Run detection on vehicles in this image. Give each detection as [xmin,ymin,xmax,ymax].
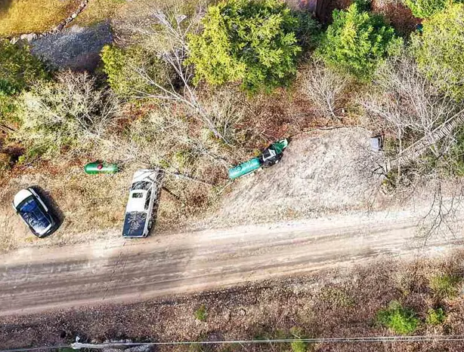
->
[256,134,298,173]
[16,188,60,245]
[122,170,166,246]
